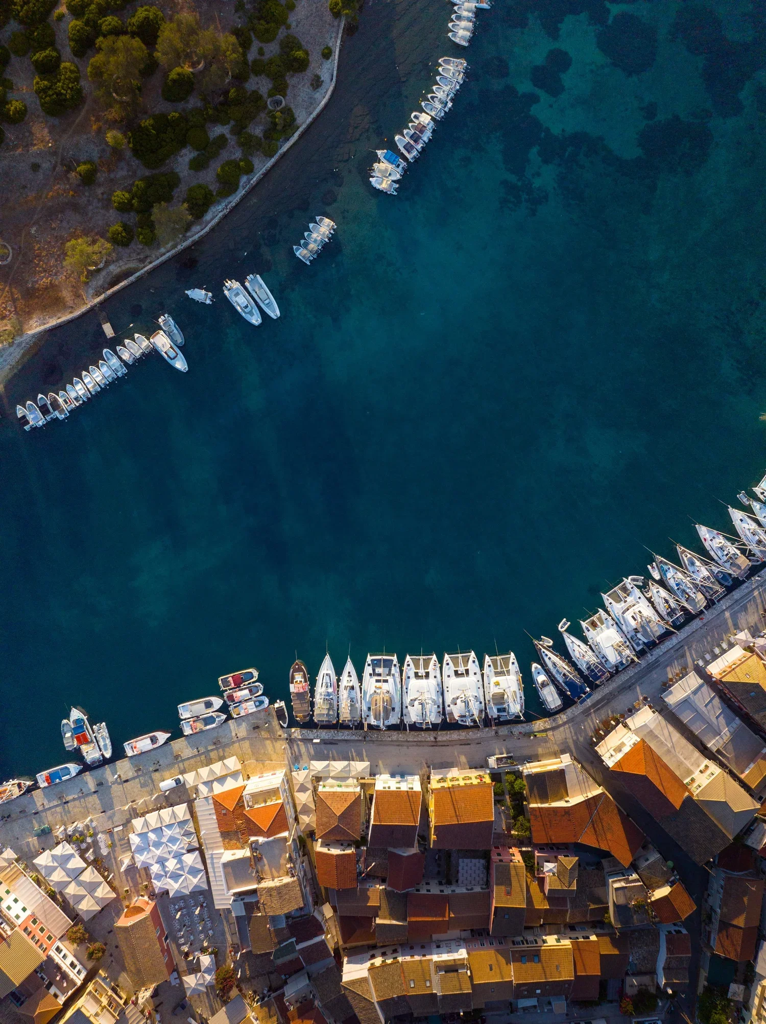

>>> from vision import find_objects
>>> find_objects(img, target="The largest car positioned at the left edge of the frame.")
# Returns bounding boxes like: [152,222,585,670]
[30,825,50,838]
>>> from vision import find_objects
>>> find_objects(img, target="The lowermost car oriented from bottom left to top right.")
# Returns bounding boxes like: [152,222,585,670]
[170,996,192,1021]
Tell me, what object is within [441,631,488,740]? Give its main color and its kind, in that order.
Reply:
white boat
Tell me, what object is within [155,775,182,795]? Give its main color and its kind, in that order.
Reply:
white vehicle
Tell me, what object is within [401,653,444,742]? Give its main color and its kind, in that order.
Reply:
white boat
